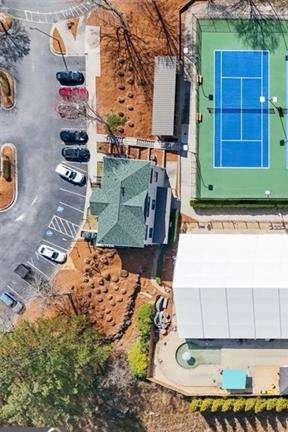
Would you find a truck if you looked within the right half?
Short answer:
No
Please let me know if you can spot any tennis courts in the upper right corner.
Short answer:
Yes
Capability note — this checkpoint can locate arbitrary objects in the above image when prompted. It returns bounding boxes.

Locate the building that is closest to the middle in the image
[91,156,174,247]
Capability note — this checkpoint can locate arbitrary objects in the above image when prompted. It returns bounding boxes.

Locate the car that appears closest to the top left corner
[55,69,80,81]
